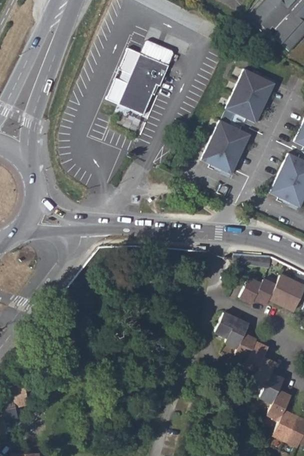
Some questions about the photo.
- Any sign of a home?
Yes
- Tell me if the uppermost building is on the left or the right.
right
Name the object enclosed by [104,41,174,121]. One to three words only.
building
